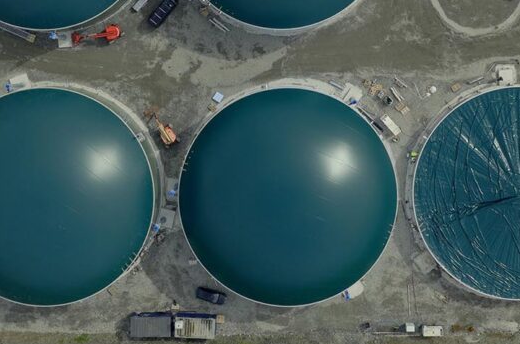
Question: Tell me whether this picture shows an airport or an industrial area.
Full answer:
The area seen from above is an industrial area.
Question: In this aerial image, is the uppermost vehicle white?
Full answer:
No, the uppermost vehicle is black.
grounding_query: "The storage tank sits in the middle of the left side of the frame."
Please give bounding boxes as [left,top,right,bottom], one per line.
[0,79,169,307]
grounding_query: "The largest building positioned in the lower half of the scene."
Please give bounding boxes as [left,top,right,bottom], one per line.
[419,319,442,337]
